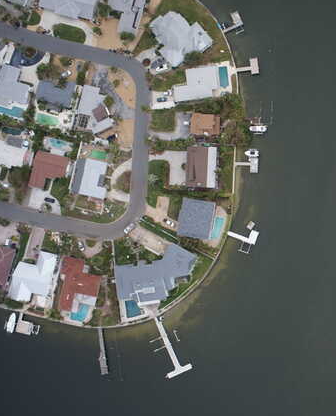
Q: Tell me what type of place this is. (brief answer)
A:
residential area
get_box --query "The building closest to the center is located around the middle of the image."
[177,197,217,238]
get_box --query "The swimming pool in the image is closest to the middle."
[210,215,226,241]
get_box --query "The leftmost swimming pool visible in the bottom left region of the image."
[70,302,90,321]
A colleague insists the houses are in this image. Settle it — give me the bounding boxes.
[57,254,103,311]
[150,10,214,73]
[188,137,218,188]
[110,0,148,36]
[27,151,72,191]
[177,197,217,238]
[0,136,32,178]
[38,0,99,20]
[115,242,199,305]
[36,79,78,109]
[0,65,35,104]
[6,252,60,305]
[72,158,110,199]
[76,84,115,136]
[190,112,221,134]
[173,66,222,99]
